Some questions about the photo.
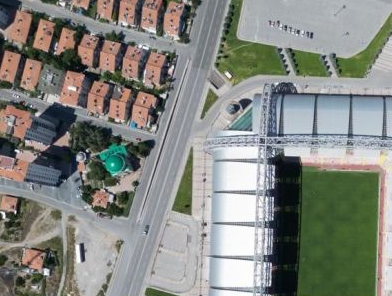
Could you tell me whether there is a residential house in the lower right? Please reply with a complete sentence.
No, I can find no residential house in the lower right.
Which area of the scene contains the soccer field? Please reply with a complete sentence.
The soccer field is in the bottom right part of the image.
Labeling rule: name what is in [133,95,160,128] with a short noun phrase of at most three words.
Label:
house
